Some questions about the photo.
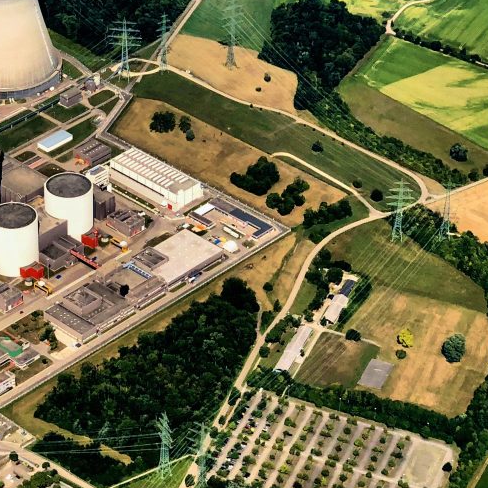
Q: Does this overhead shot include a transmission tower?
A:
Yes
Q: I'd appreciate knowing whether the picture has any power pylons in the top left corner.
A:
Yes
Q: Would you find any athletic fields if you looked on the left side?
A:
No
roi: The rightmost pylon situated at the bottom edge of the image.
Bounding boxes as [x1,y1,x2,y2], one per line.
[191,420,211,482]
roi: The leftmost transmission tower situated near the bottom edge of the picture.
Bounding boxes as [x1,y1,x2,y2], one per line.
[155,412,177,482]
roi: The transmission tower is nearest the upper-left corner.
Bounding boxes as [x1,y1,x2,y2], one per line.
[110,21,141,77]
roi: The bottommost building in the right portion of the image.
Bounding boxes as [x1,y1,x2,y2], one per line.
[273,324,314,375]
